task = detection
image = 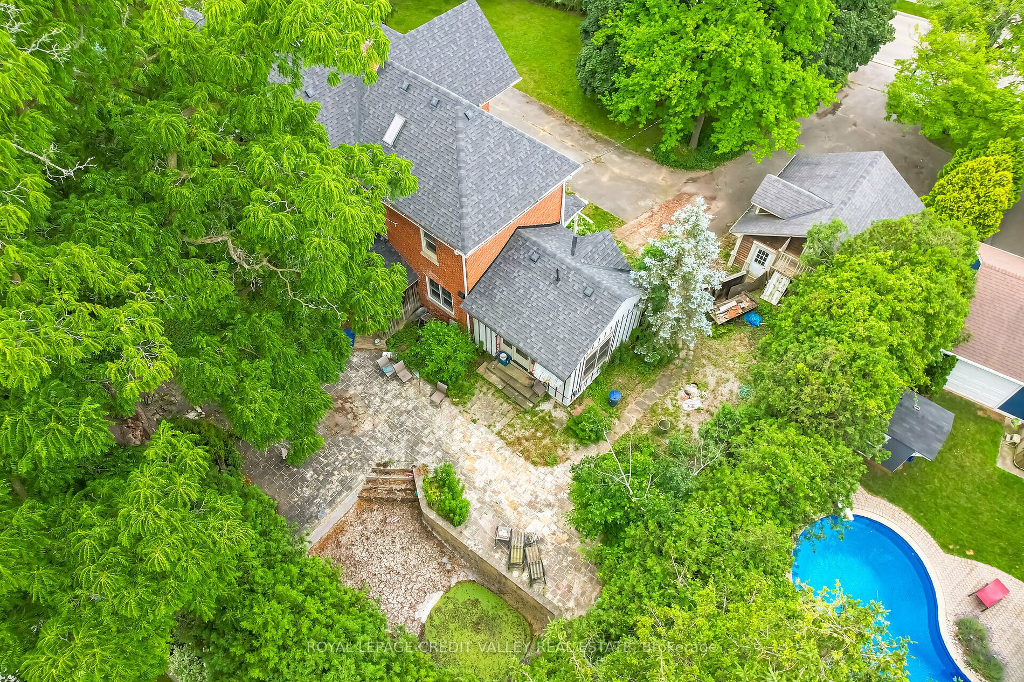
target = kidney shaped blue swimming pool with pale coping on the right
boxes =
[783,506,981,682]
